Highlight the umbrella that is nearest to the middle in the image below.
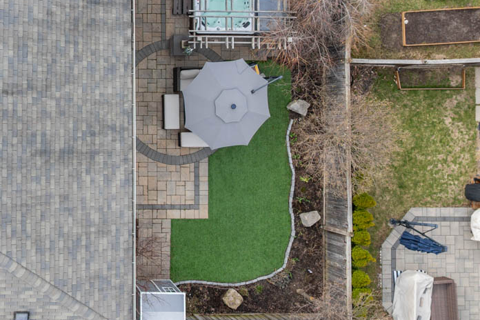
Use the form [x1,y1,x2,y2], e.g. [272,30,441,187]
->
[181,59,283,150]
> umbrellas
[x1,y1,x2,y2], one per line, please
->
[181,59,283,150]
[386,220,448,254]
